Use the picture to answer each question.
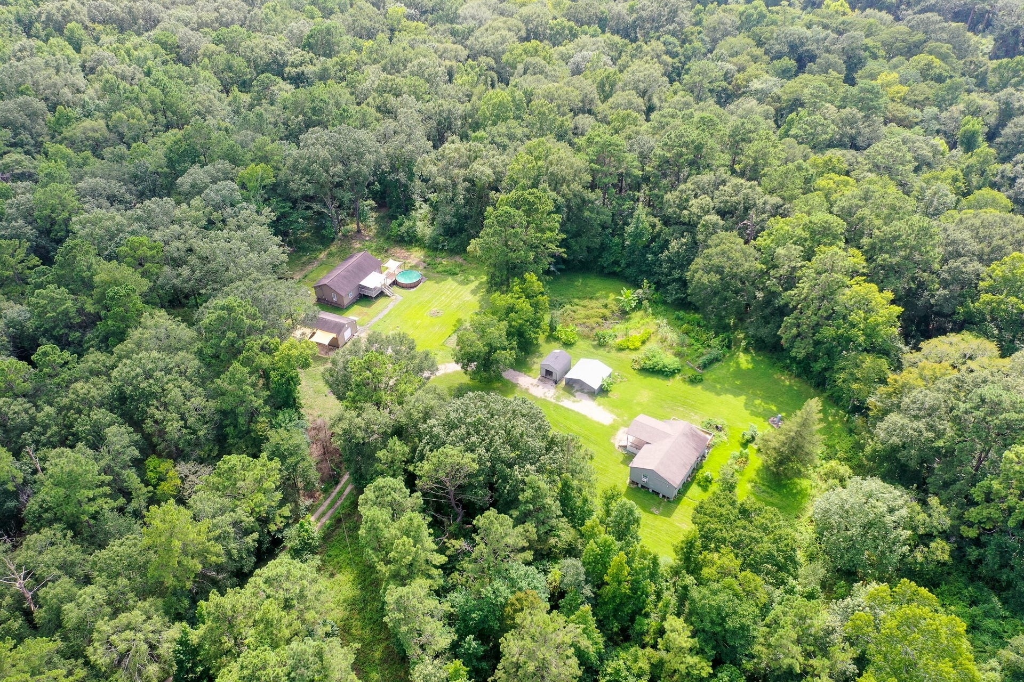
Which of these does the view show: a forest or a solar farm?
forest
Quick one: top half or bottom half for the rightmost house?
bottom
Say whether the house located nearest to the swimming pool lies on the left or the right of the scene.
left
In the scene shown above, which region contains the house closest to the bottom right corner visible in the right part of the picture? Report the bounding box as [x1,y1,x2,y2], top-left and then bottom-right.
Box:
[617,414,714,499]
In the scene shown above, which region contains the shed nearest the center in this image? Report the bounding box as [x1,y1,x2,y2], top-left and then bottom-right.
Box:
[540,350,571,381]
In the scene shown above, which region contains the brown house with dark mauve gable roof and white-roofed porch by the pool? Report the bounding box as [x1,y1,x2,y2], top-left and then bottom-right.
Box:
[312,251,395,309]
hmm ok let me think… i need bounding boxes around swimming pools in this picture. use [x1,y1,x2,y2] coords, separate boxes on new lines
[396,270,422,289]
